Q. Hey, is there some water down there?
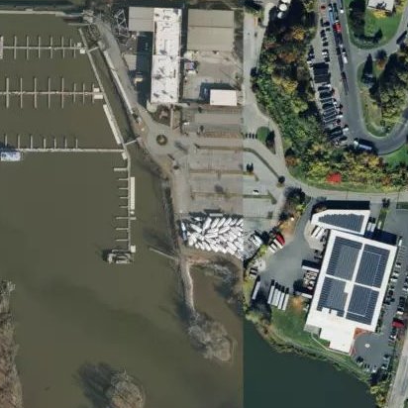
Yes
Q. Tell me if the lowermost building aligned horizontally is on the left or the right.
right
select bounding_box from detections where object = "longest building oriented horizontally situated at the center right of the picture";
[312,209,371,235]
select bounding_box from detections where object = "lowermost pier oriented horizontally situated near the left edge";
[0,135,124,151]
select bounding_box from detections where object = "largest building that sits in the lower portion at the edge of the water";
[305,230,398,355]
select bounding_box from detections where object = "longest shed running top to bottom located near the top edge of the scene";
[150,7,181,102]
